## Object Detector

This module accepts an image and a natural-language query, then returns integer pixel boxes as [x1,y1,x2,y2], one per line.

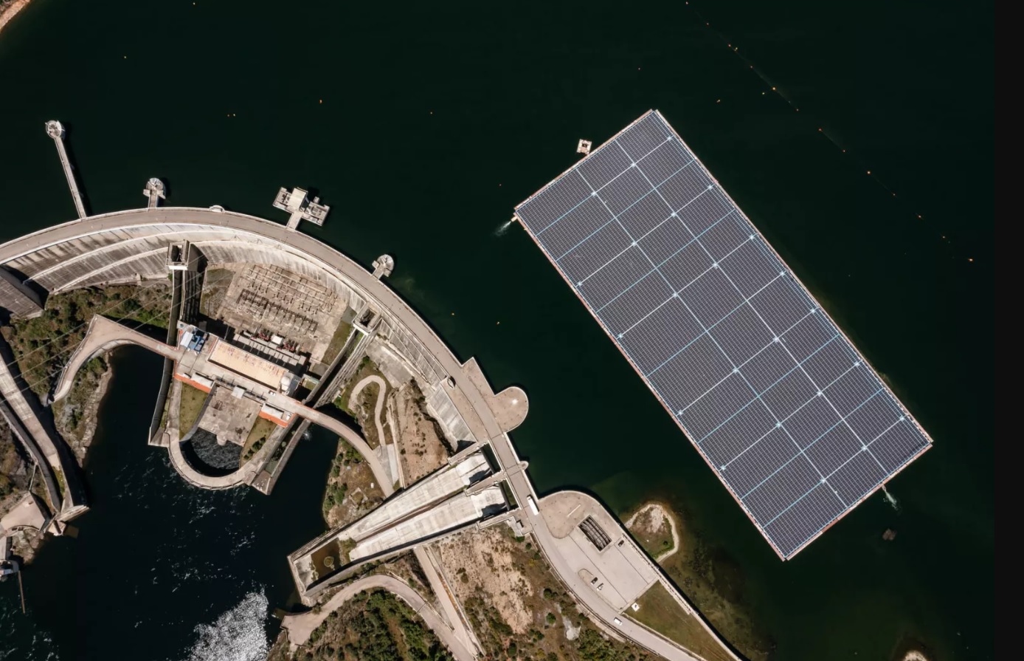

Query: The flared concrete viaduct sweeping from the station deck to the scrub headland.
[52,314,178,402]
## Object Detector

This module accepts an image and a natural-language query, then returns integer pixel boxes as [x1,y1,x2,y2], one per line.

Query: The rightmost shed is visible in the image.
[478,509,531,536]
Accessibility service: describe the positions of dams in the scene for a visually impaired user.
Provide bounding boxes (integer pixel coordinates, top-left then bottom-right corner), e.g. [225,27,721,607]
[0,202,462,389]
